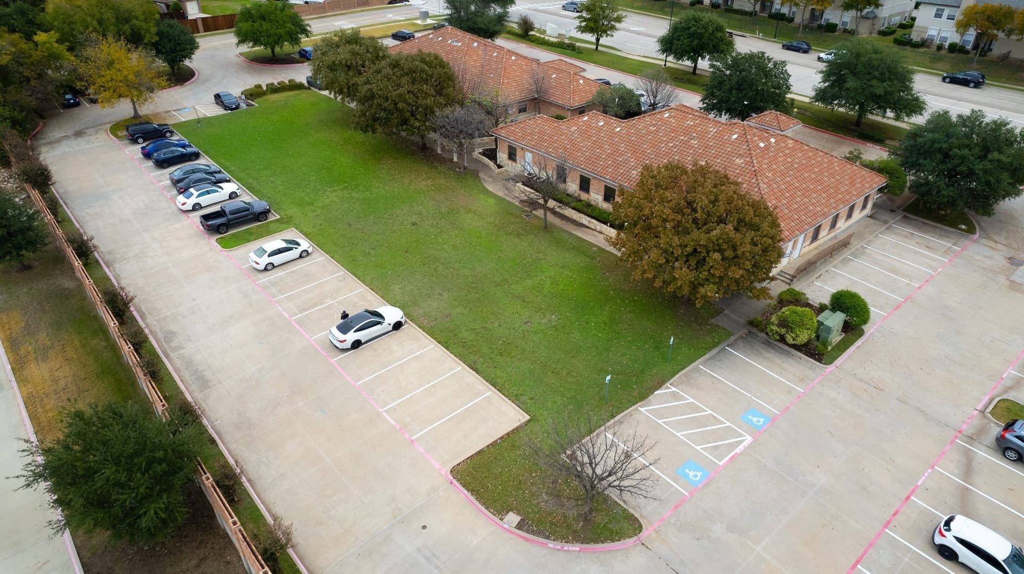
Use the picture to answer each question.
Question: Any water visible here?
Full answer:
No, the picture contains no water.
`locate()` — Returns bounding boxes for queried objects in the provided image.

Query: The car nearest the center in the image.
[327,304,406,350]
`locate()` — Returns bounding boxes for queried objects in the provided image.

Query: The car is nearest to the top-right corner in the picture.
[939,71,986,89]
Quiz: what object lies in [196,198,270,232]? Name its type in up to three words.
truck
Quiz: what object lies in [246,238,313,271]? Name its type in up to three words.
car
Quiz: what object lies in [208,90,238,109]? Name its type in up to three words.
car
